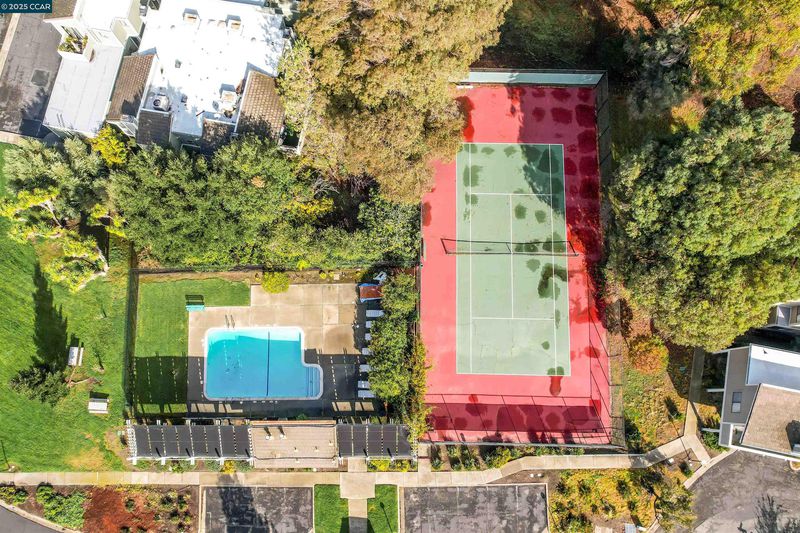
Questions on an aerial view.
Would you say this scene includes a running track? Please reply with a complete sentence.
No, no running track can be seen from above.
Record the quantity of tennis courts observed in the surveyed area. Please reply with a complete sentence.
There is 1 tennis court in the image.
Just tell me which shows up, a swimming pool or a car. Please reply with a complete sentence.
Visible in the photo is a swimming pool.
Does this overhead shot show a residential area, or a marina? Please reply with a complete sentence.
What you see here is a residential area.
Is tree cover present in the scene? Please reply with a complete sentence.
Yes, tree cover shows up in the scene.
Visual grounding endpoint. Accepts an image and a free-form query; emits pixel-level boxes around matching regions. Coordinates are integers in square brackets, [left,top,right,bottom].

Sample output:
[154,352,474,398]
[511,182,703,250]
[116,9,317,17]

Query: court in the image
[417,84,609,446]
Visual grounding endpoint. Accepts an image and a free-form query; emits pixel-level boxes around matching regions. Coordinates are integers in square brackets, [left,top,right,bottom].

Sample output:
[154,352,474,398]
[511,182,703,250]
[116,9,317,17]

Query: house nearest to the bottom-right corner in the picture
[701,347,800,462]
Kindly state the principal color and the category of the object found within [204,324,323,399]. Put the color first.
blue swimming pool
